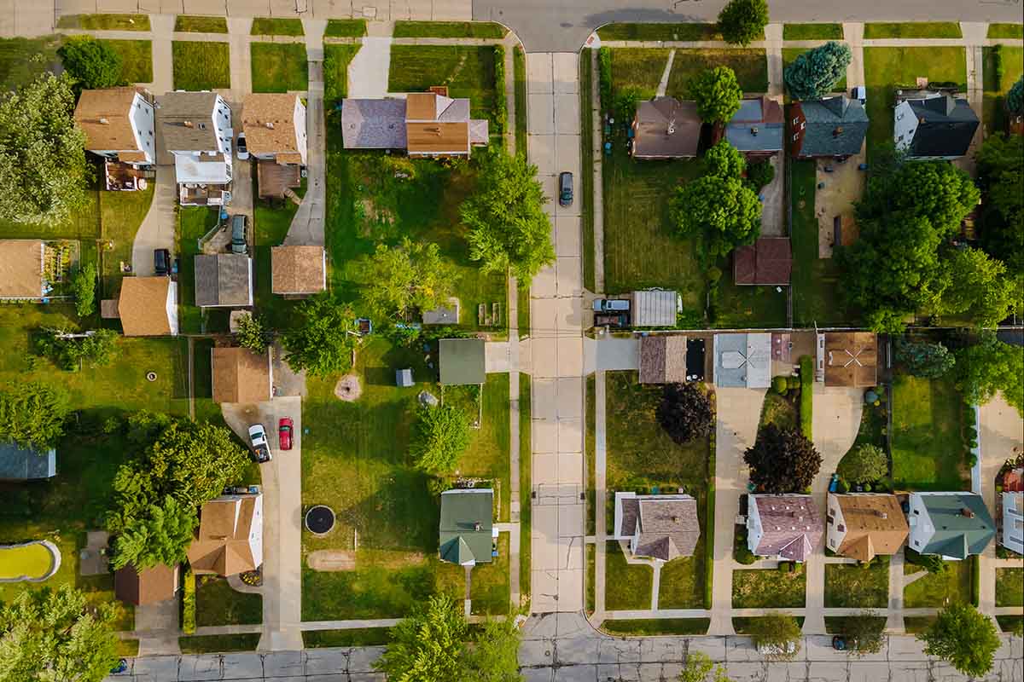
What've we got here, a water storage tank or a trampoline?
trampoline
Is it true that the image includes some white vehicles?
Yes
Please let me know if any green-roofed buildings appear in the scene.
Yes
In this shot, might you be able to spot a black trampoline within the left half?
Yes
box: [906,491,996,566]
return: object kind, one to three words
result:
house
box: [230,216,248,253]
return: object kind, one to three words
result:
vehicle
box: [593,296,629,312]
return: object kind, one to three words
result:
car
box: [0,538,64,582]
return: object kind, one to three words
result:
swimming pool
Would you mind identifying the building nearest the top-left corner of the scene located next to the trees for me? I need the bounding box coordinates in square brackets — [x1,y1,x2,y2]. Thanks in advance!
[73,88,157,166]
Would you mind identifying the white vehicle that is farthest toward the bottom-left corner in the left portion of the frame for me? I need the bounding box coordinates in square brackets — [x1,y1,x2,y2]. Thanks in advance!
[249,424,272,463]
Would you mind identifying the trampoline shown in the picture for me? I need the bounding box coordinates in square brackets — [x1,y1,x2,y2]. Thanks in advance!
[305,504,336,535]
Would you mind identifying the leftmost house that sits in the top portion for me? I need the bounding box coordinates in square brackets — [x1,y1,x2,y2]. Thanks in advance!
[0,239,54,300]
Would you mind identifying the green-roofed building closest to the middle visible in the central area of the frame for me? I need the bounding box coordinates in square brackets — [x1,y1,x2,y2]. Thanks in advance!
[439,339,485,383]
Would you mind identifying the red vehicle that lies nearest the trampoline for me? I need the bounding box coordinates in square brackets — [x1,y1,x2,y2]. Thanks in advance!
[277,416,294,450]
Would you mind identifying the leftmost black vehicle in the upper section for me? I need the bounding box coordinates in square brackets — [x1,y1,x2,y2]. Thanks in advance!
[153,248,172,276]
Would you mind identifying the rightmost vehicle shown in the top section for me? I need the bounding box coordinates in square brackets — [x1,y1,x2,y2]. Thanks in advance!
[850,78,869,109]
